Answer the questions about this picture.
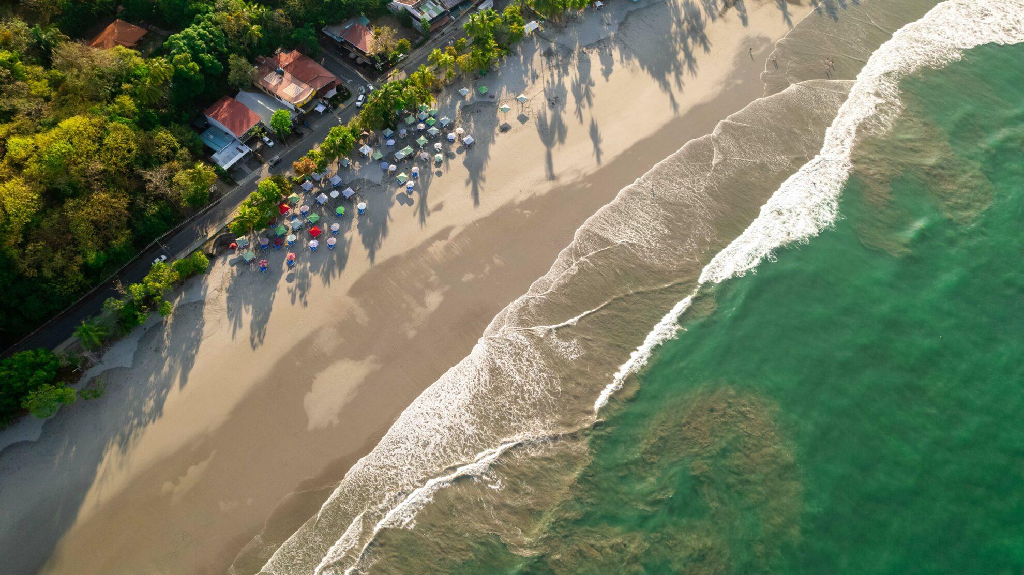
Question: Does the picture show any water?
Yes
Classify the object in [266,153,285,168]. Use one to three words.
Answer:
vehicle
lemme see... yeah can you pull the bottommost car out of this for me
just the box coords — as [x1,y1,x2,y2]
[150,253,169,267]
